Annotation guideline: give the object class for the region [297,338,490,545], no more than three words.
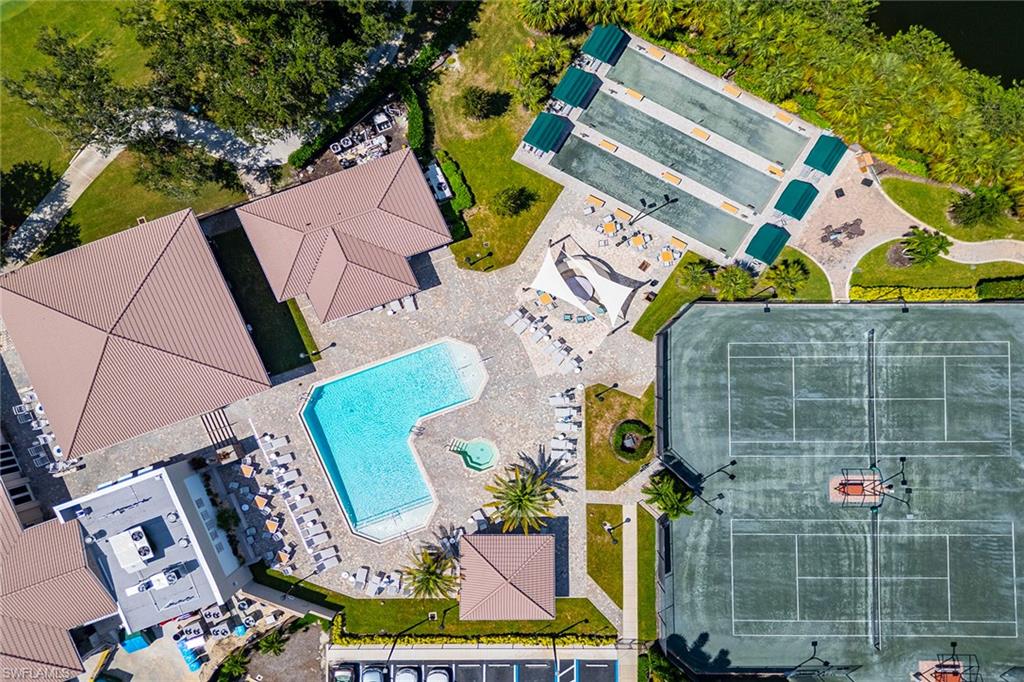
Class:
swimming pool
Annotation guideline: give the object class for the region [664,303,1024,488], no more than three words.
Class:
tennis court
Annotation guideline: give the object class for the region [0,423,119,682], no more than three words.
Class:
building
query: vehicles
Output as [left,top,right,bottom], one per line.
[427,670,449,682]
[331,666,354,682]
[362,668,384,682]
[395,669,417,682]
